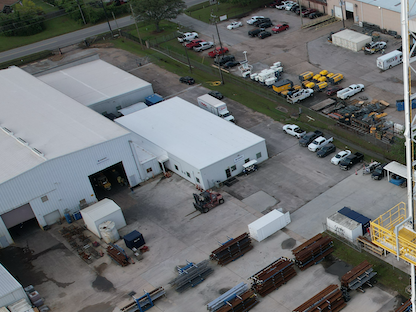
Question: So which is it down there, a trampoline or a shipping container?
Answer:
shipping container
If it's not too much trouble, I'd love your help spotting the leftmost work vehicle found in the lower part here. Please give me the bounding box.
[188,191,221,213]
